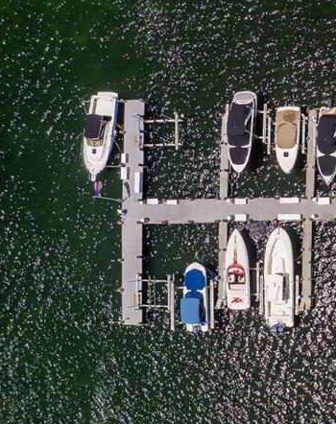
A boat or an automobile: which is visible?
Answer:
boat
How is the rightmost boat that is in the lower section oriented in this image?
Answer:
from top to bottom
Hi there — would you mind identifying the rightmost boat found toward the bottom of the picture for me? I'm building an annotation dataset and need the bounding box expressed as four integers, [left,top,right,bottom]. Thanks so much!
[264,229,297,336]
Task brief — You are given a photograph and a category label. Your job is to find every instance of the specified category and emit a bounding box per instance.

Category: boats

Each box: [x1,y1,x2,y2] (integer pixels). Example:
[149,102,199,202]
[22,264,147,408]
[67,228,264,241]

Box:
[226,91,256,173]
[275,108,301,174]
[179,263,210,335]
[226,231,253,309]
[316,101,336,184]
[83,90,124,181]
[264,229,297,336]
